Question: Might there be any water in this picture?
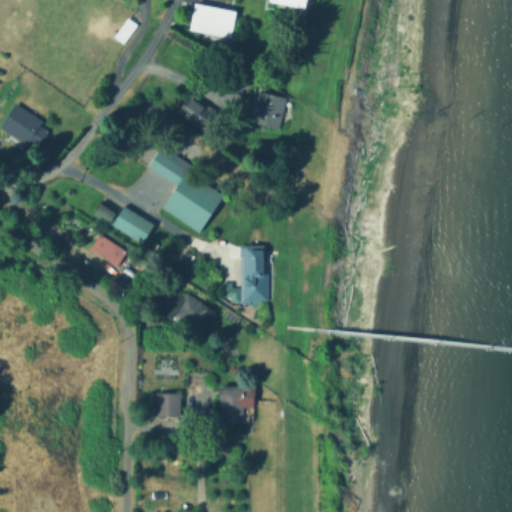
Yes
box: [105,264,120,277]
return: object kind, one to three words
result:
vehicle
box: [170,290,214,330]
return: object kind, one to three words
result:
house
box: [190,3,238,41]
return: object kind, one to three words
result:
house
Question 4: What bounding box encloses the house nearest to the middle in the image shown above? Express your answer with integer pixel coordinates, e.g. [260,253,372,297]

[226,245,270,308]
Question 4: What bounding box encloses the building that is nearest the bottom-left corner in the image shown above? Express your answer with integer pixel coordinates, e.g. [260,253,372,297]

[156,394,182,418]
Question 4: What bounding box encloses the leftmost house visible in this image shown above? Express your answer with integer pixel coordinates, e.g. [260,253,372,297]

[1,104,48,146]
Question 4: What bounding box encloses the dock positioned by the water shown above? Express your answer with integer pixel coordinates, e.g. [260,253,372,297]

[288,326,512,352]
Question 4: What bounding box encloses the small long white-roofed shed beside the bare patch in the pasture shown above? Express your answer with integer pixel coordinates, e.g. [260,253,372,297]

[114,18,138,44]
